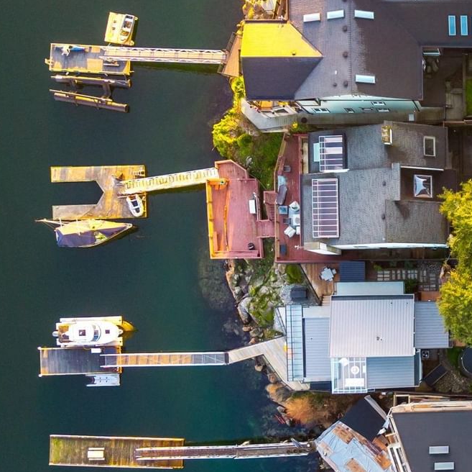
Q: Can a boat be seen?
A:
Yes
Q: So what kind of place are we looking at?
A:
residential area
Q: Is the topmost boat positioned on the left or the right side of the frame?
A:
left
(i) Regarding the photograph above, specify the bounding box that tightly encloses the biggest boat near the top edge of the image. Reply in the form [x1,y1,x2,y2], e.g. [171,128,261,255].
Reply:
[102,9,138,44]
